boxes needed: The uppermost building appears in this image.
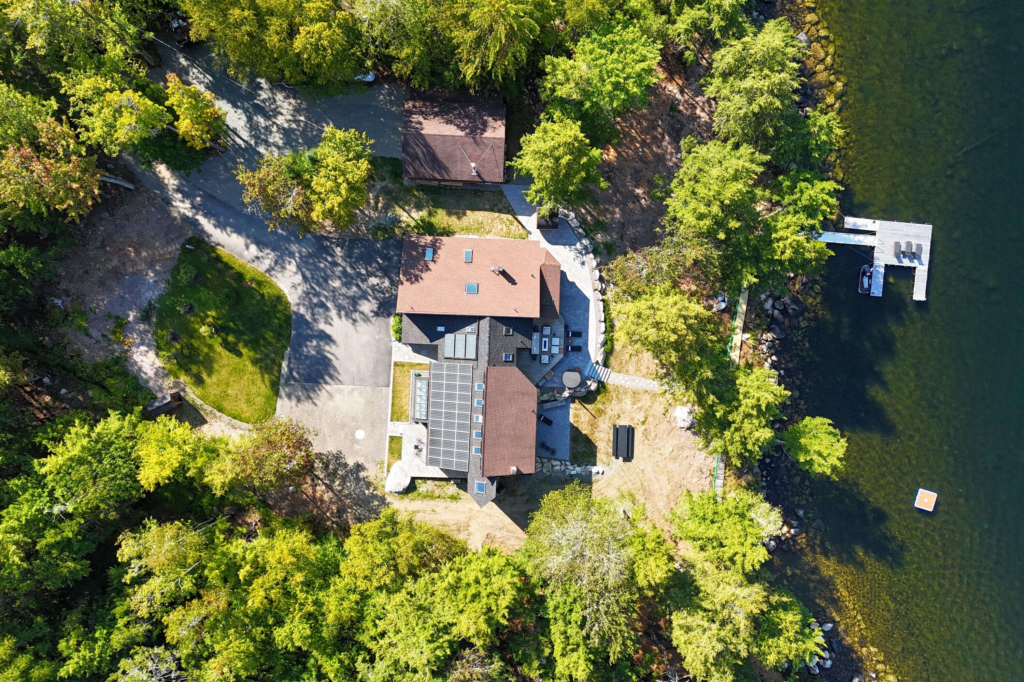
[402,89,506,185]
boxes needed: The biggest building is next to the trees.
[396,236,561,508]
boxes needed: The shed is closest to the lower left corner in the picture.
[147,390,193,417]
